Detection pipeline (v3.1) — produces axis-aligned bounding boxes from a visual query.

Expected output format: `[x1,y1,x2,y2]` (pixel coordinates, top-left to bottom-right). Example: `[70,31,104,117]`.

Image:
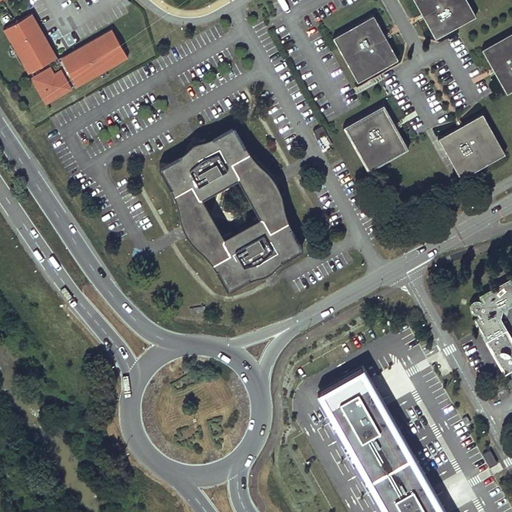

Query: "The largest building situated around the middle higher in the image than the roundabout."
[161,130,302,293]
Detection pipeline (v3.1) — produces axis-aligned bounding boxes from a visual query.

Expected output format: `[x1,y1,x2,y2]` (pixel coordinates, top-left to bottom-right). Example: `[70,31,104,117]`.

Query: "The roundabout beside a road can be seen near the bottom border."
[119,334,282,512]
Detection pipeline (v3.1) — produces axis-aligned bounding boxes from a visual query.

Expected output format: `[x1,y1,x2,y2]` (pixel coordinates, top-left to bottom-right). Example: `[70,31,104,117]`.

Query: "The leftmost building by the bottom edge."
[316,369,441,512]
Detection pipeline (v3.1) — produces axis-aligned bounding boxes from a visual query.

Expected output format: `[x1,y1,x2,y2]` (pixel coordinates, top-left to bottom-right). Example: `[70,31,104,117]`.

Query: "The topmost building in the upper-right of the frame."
[412,0,476,42]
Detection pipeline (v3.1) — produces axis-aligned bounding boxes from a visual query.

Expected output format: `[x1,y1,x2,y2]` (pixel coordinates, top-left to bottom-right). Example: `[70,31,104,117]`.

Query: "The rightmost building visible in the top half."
[482,35,512,96]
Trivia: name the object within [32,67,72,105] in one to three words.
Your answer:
house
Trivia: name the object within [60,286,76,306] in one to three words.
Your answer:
vehicle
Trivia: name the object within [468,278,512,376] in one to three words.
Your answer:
building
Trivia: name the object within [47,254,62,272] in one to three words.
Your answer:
vehicle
